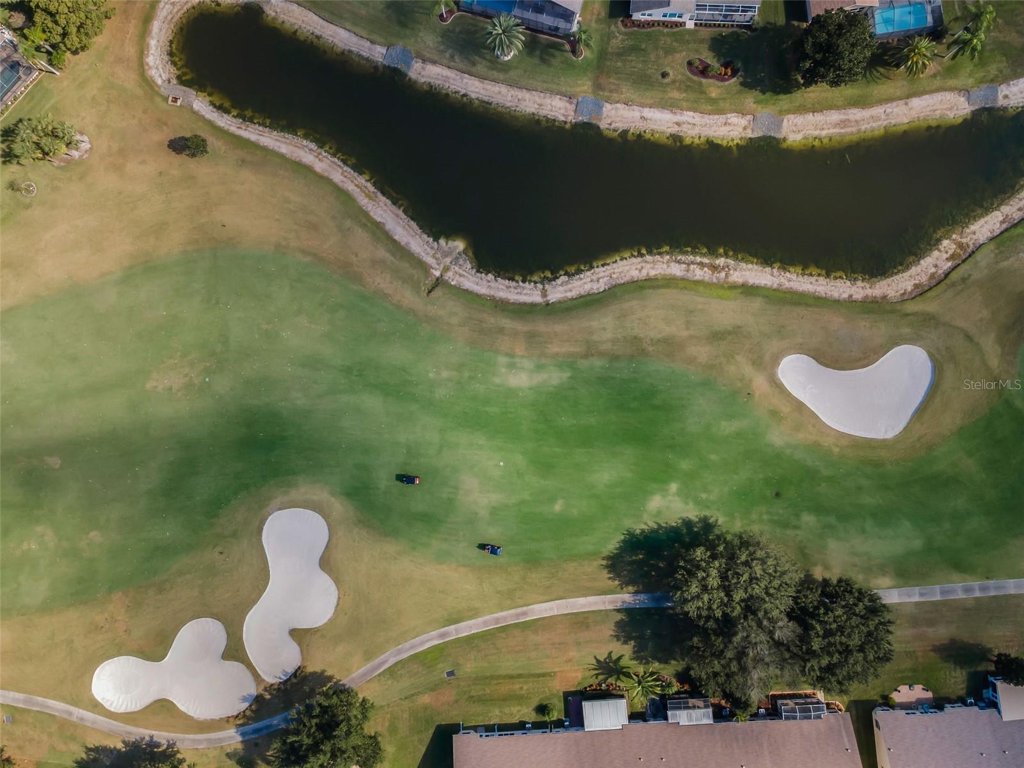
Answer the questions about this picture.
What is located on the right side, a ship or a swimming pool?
swimming pool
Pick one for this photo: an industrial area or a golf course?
golf course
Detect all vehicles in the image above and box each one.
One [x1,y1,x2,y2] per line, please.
[400,475,419,485]
[483,543,501,556]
